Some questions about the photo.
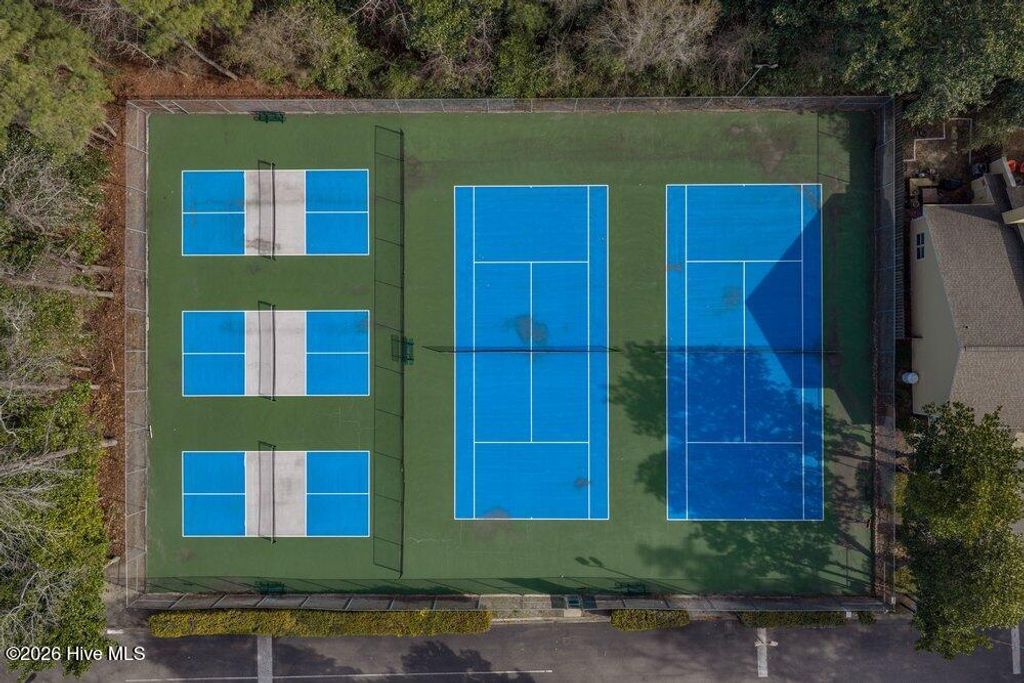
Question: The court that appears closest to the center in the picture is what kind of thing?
tennis court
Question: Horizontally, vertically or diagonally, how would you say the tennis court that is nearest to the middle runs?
vertically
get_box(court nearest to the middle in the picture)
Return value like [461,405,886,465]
[455,185,609,520]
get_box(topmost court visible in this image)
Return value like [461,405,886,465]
[183,170,369,256]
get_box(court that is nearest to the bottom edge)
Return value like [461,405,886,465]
[183,451,369,537]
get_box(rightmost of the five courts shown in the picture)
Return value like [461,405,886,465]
[667,184,823,521]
